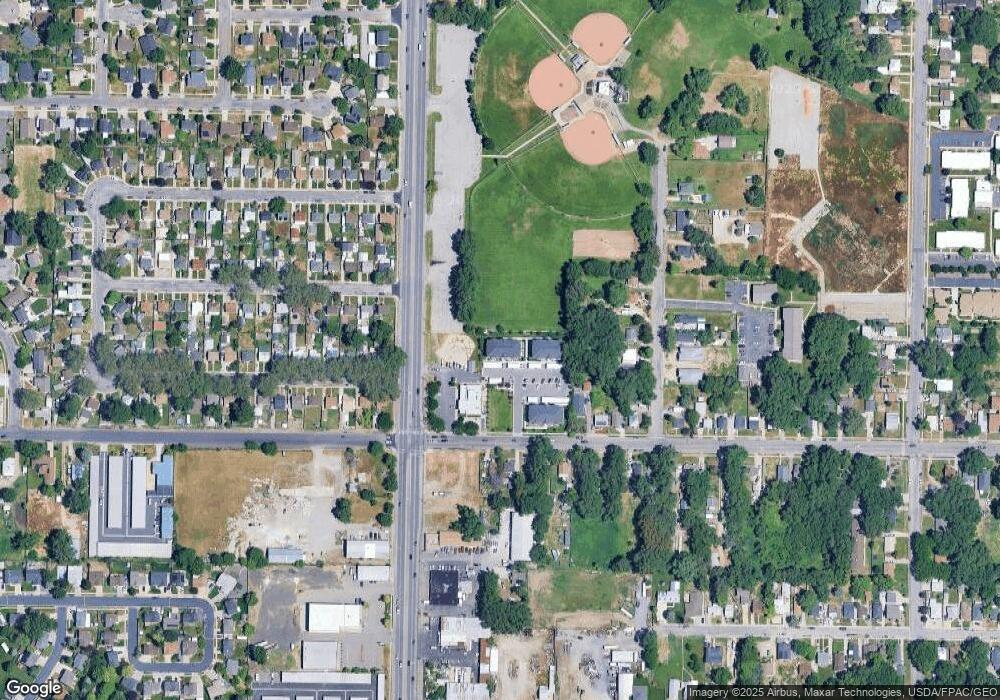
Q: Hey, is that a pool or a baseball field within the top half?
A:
baseball field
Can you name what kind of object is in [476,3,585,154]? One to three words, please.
baseball field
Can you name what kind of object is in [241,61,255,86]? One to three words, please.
house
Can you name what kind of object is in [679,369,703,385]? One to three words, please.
building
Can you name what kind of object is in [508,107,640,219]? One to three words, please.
baseball field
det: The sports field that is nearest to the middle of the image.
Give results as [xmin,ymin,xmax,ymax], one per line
[470,163,632,333]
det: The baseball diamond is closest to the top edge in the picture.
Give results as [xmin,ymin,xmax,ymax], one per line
[512,0,650,69]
